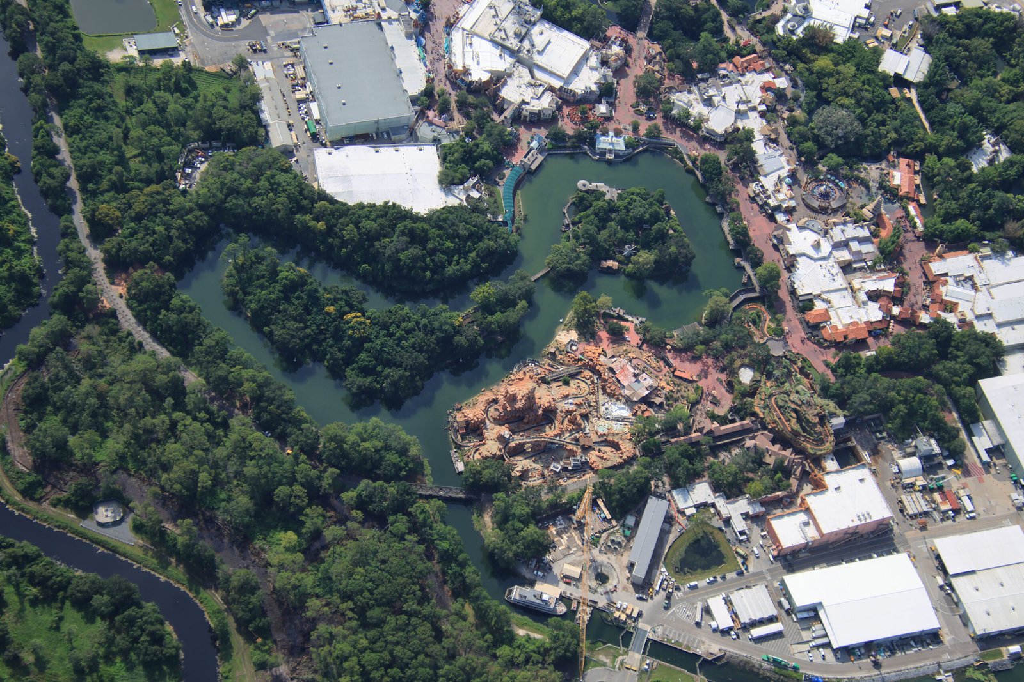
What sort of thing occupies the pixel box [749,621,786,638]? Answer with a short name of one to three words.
vehicle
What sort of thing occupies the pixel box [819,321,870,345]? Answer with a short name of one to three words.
building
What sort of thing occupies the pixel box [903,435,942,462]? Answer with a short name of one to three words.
house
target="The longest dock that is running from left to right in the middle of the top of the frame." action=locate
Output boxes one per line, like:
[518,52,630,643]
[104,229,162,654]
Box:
[547,141,676,163]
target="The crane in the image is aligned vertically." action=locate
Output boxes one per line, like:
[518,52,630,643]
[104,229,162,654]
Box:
[572,474,596,679]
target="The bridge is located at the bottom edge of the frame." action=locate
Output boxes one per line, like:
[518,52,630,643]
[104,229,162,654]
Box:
[626,615,653,666]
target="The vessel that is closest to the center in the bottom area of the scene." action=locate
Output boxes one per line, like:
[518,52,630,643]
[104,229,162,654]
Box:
[448,449,463,473]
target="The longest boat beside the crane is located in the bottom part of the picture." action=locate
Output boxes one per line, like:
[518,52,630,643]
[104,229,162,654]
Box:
[501,584,567,617]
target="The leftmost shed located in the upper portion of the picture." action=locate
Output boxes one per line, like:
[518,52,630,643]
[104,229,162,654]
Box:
[123,31,178,61]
